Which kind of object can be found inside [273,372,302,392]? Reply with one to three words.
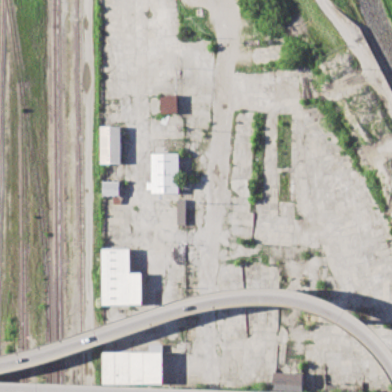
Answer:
house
